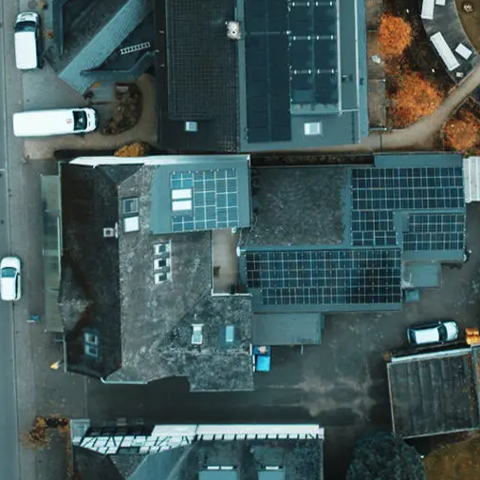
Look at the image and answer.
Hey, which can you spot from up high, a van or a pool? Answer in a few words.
van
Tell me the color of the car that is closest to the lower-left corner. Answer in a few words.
white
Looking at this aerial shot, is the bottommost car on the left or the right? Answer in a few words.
right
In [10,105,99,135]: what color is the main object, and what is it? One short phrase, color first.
white van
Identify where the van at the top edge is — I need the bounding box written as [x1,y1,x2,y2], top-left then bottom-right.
[12,12,43,70]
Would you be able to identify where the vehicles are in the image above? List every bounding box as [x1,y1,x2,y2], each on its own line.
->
[12,12,43,70]
[10,105,99,135]
[0,256,23,303]
[406,319,459,347]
